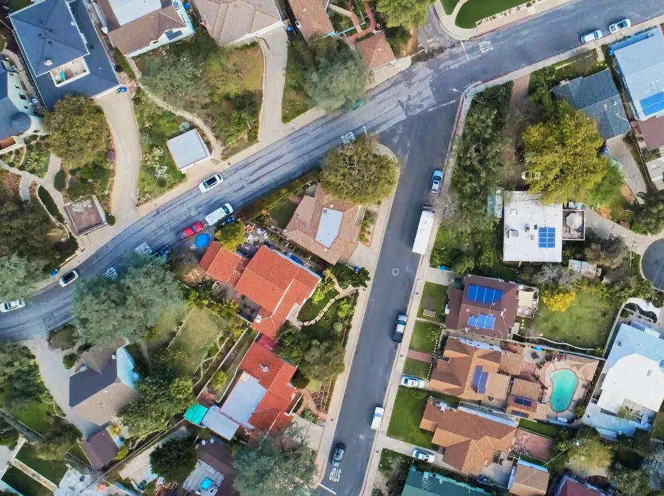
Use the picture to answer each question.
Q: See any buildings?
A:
Yes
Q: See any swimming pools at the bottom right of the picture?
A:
Yes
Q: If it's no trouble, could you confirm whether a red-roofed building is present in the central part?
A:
Yes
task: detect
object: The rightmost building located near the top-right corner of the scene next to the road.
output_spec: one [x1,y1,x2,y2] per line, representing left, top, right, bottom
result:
[607,27,664,151]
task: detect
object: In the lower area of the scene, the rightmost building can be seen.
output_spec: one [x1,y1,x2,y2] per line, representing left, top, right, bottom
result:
[593,318,664,414]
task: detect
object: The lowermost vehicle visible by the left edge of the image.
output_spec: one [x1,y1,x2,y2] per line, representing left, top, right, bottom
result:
[1,297,27,313]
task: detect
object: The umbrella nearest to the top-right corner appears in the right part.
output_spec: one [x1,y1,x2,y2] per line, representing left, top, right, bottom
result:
[565,212,582,229]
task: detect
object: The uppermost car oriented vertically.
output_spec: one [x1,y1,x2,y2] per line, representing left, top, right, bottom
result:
[430,169,444,195]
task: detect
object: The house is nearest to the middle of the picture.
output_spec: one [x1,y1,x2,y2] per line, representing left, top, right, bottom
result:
[283,182,362,264]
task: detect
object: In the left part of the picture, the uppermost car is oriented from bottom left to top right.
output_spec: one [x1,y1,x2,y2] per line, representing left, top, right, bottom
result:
[198,173,225,194]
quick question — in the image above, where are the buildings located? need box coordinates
[445,274,518,339]
[354,32,396,70]
[502,191,562,262]
[199,241,323,337]
[553,69,630,139]
[569,259,596,277]
[593,318,664,414]
[80,426,121,470]
[420,395,518,475]
[0,55,51,157]
[69,336,140,425]
[402,465,492,496]
[549,470,610,496]
[195,0,284,46]
[64,196,112,235]
[607,27,664,151]
[10,0,126,116]
[202,341,299,445]
[168,129,214,170]
[510,462,550,496]
[289,0,340,43]
[506,378,550,420]
[431,335,522,401]
[283,182,362,264]
[98,0,197,57]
